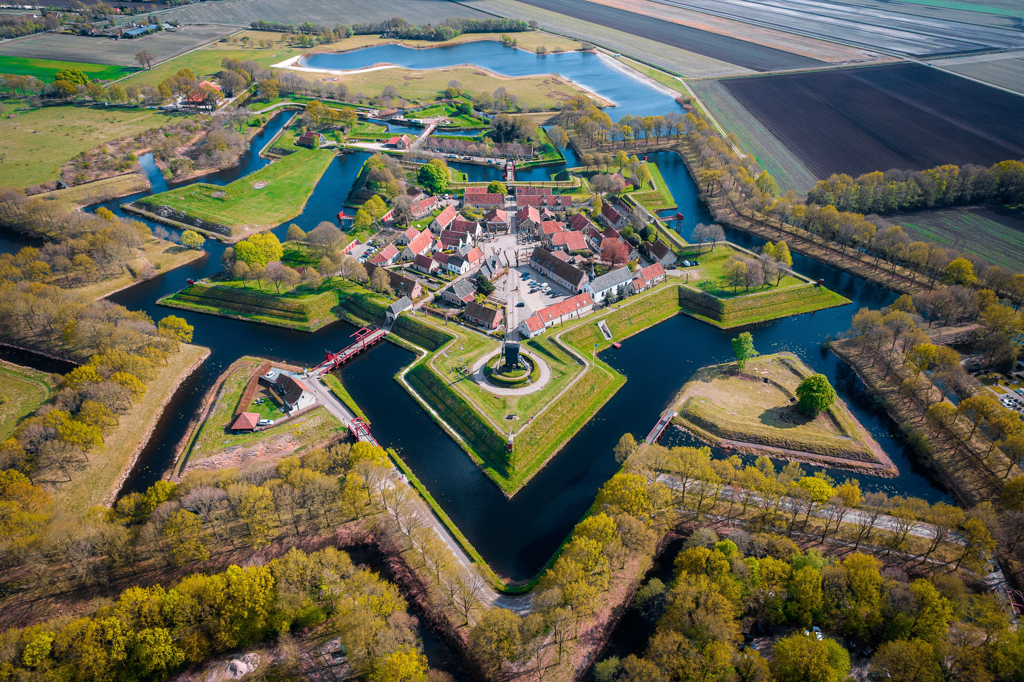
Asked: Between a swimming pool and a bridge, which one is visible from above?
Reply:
bridge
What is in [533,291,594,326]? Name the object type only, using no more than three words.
house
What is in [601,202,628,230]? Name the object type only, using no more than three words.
house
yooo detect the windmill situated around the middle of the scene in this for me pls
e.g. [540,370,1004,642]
[498,319,542,376]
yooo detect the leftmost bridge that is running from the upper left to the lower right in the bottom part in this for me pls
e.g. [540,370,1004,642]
[344,410,391,455]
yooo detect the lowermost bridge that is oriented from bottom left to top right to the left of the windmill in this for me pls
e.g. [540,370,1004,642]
[311,325,389,374]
